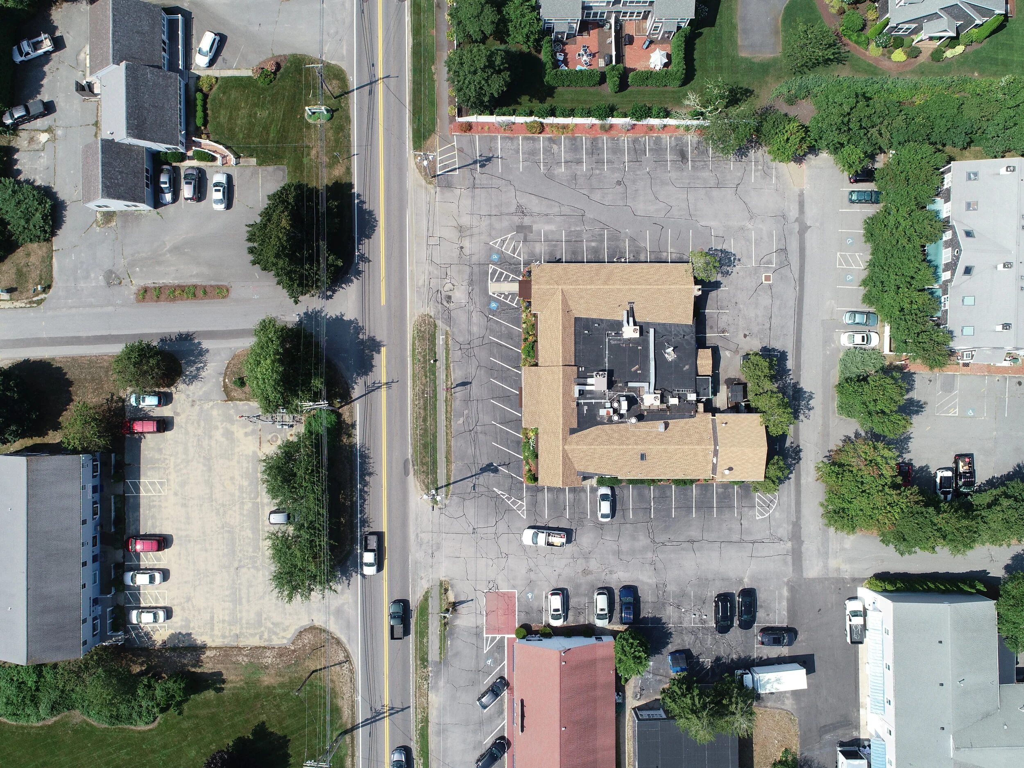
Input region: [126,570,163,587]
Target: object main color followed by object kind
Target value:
white car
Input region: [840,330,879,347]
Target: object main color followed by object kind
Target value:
white car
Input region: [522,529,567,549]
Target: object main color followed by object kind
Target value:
white vehicle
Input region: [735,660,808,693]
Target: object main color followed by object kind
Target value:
white truck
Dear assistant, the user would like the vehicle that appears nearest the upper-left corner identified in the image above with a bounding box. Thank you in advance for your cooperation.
[12,30,57,65]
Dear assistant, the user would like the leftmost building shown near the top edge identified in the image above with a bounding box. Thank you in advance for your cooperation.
[82,0,195,209]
